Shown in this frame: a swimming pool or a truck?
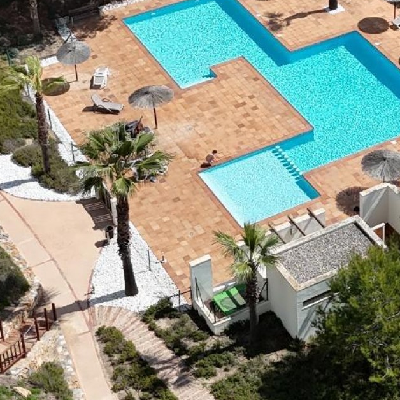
swimming pool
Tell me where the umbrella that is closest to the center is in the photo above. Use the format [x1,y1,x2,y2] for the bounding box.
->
[129,84,173,129]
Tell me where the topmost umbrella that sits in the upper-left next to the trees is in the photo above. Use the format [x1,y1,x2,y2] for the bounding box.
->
[55,42,92,81]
